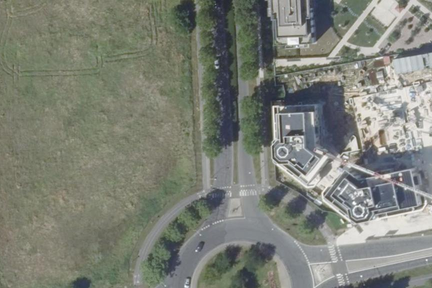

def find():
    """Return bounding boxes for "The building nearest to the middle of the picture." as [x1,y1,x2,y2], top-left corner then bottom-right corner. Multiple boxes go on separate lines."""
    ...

[271,104,329,188]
